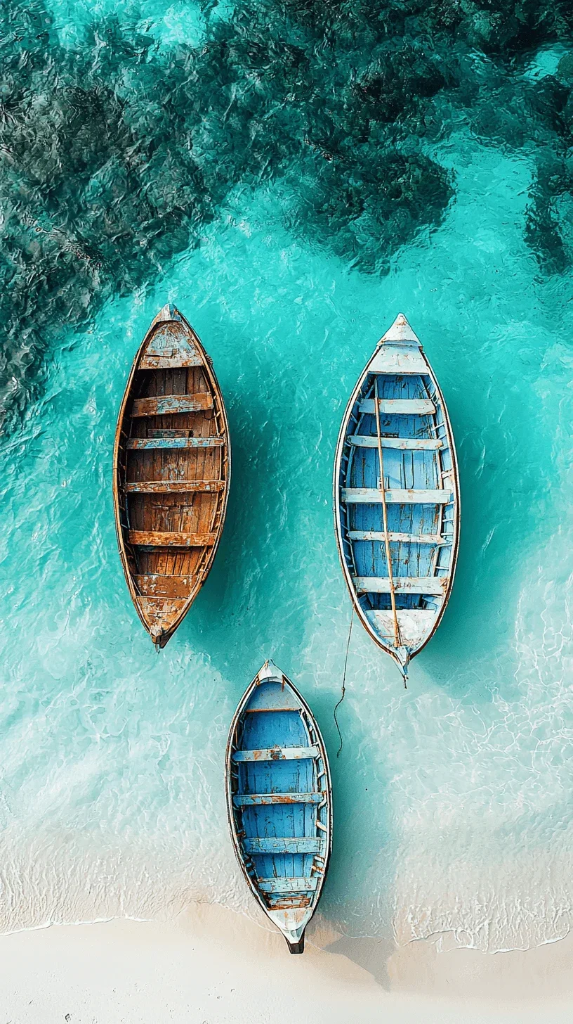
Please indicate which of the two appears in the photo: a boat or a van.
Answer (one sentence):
It is a boat that can be seen here.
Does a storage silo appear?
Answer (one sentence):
No, the picture doesn't show any storage silo.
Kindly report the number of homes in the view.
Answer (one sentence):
There are no homes in the image.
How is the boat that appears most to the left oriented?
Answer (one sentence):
Seen from above, the boat that appears most to the left lies up and down.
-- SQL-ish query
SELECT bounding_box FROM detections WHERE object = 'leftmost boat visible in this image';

[113,302,230,651]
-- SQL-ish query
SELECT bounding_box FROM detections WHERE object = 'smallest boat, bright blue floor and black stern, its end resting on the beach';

[225,659,332,953]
